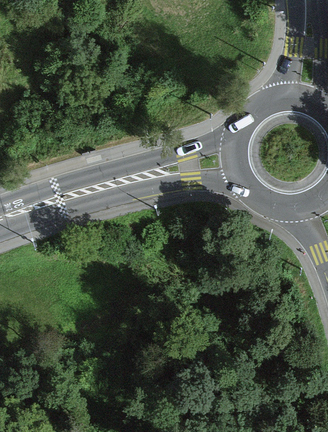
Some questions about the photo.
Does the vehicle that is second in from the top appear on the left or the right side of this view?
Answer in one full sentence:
The vehicle that is second in from the top appears in the right half of the scene.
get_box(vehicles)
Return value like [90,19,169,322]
[230,184,252,199]
[176,142,204,157]
[278,54,293,76]
[228,114,257,134]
